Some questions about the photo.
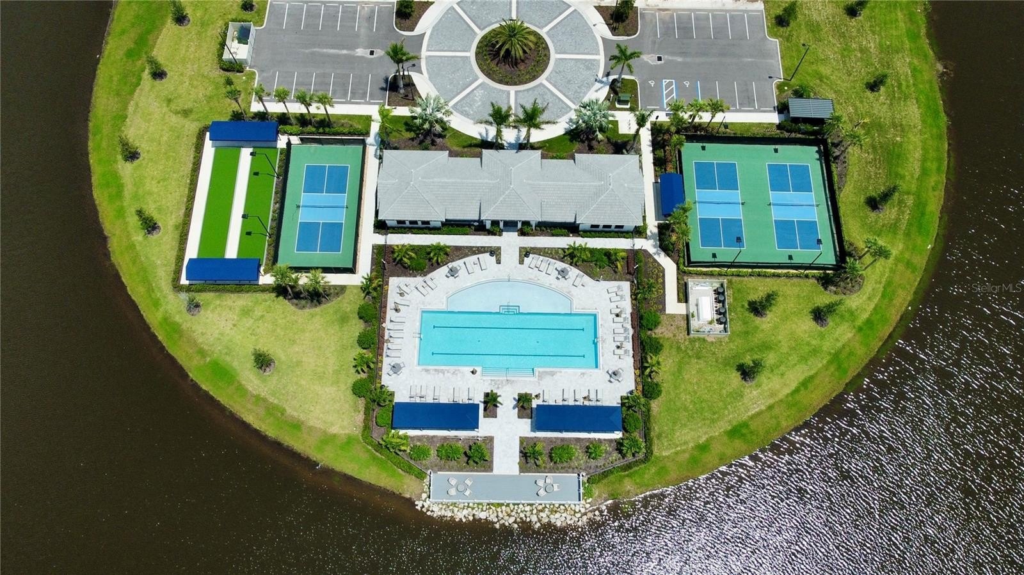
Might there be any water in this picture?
Yes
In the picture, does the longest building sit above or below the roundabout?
below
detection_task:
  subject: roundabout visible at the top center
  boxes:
[421,0,604,134]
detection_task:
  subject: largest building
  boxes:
[374,148,648,231]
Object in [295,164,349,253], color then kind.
blue sports court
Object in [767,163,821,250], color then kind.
blue sports court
